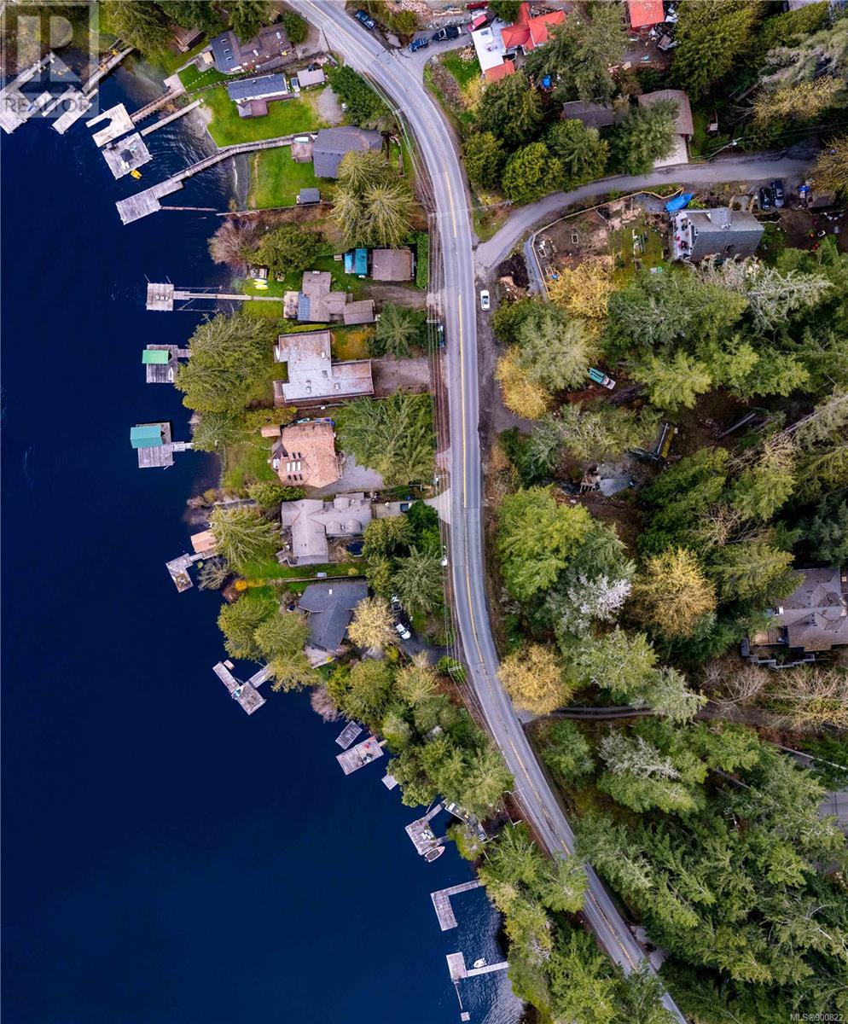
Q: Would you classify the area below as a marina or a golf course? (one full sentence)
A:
This looks like a marina.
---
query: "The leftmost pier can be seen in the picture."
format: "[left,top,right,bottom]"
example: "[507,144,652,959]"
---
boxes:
[0,48,56,135]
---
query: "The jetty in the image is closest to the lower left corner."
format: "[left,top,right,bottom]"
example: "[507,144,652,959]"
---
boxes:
[212,661,271,716]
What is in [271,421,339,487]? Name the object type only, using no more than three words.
house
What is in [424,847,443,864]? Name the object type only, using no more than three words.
boat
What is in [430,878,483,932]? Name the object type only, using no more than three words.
pier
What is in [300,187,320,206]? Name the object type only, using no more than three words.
shed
